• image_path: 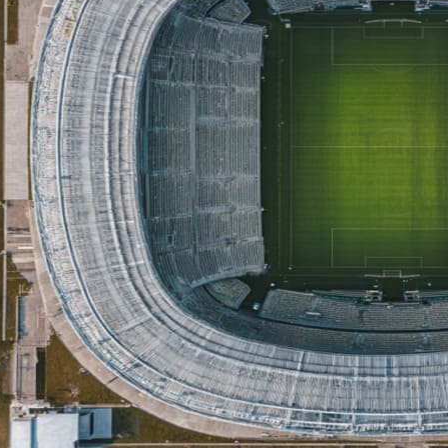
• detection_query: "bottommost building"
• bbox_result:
[12,403,114,448]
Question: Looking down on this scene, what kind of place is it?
sports ground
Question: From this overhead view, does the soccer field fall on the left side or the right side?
right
